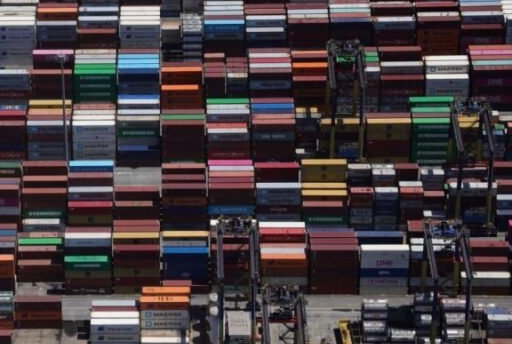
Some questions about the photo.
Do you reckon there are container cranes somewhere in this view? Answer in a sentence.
Yes, this view includes a container crane.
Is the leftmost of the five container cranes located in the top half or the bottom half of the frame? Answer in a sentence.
The leftmost of the five container cranes is in the bottom half of the image.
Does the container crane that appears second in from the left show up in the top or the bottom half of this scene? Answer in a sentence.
The bottom half of the photo is where the container crane that appears second in from the left is.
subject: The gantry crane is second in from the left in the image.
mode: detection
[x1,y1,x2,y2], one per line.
[252,283,304,344]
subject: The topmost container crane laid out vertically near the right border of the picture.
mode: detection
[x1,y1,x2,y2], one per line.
[446,100,500,233]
